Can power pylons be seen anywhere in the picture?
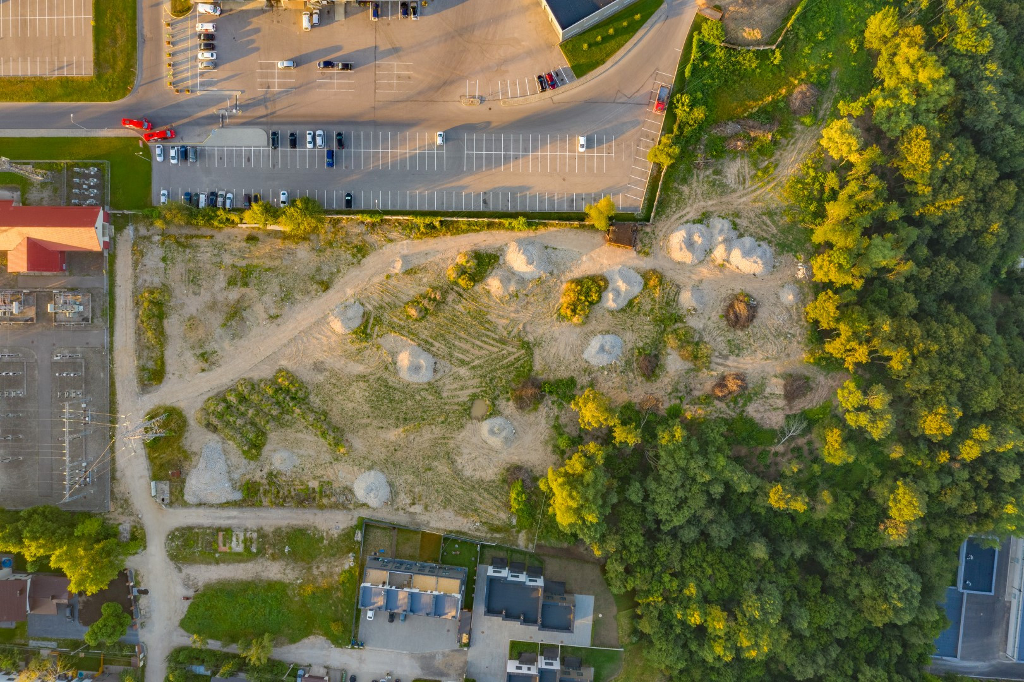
Yes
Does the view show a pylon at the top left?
Yes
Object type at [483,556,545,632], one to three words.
house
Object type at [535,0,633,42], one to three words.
building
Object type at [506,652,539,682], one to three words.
house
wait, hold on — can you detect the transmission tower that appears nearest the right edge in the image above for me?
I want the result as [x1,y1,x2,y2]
[106,408,175,452]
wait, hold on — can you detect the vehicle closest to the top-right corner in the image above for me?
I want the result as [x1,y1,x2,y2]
[653,81,671,116]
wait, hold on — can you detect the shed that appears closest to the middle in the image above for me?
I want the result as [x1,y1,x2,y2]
[606,226,634,248]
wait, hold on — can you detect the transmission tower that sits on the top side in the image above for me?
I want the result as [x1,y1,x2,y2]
[0,147,53,184]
